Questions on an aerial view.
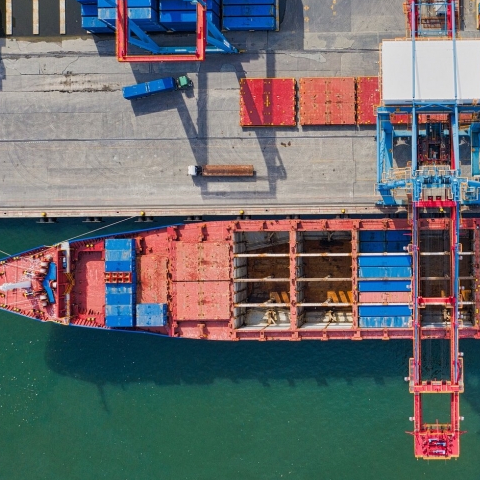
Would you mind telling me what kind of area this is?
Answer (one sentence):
The picture captures a port.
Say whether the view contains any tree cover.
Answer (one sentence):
No, the scene doesn't show any tree cover.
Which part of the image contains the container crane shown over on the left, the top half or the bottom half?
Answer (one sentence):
It is in the top half that the container crane shown over on the left appears.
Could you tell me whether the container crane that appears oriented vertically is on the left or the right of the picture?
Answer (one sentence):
The container crane that appears oriented vertically is on the right side of the image.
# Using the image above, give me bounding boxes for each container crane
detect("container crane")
[373,0,480,464]
[116,0,248,64]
